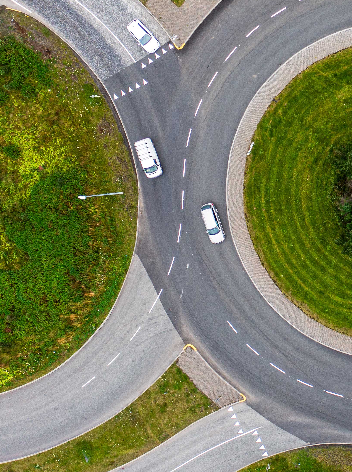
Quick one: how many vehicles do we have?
3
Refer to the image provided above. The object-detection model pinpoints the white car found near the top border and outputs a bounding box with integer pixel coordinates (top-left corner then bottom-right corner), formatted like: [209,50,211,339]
[126,17,161,54]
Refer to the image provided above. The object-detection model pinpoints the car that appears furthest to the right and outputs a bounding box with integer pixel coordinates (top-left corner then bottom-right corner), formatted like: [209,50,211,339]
[199,202,225,245]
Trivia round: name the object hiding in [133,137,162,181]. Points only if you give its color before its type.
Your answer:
white van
